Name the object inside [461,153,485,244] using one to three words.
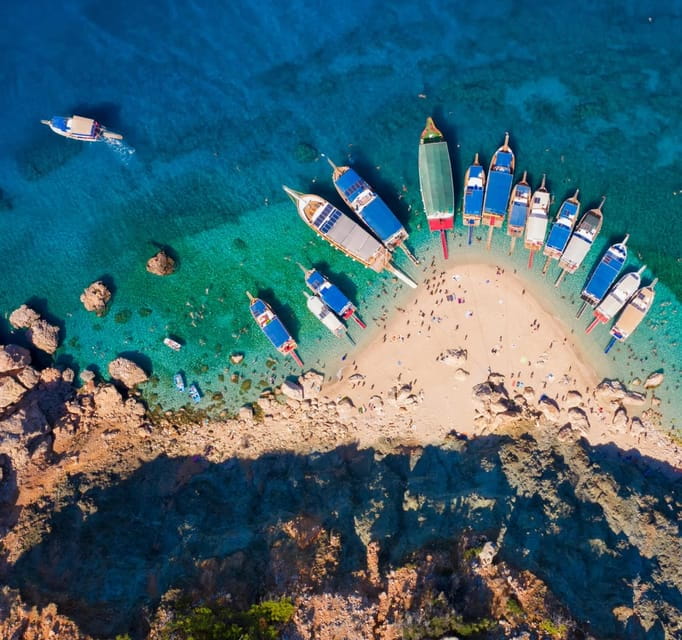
boat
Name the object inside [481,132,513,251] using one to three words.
boat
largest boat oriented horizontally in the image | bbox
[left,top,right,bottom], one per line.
[40,117,122,145]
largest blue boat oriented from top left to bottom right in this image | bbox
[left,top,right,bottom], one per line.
[329,157,415,262]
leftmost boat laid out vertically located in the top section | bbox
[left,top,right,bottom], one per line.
[419,118,455,259]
